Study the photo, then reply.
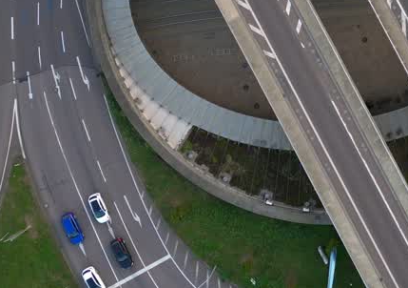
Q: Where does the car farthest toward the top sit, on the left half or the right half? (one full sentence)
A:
You can find the car farthest toward the top on the left side of the picture.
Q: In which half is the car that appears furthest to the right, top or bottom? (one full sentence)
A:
It is in the bottom half that the car that appears furthest to the right appears.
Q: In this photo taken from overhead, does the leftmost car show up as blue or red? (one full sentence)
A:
The color of the leftmost car is blue.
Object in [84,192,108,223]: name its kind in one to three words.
car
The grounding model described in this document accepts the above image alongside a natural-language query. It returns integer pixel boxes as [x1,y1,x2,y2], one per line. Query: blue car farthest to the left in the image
[61,212,84,244]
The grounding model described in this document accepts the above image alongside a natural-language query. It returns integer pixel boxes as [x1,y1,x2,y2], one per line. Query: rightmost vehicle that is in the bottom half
[108,237,132,268]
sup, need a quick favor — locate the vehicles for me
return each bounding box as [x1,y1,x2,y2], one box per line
[108,237,132,268]
[61,212,84,244]
[80,267,106,288]
[84,192,108,223]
